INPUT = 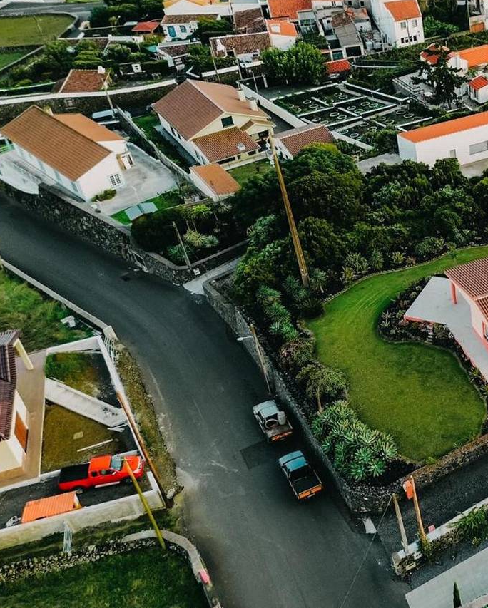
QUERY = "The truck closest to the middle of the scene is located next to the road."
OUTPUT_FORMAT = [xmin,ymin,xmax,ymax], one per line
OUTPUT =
[253,401,293,450]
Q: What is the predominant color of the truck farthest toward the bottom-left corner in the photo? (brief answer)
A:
red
